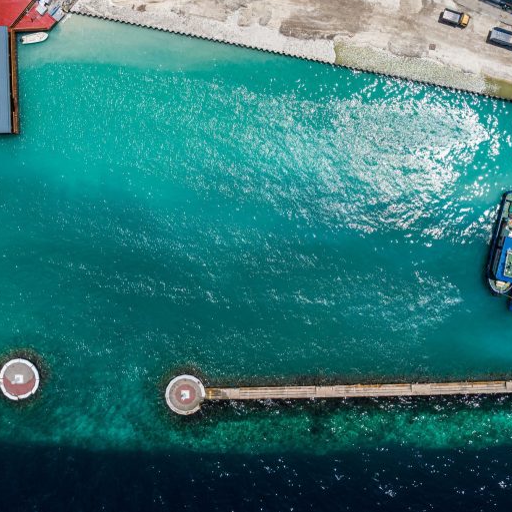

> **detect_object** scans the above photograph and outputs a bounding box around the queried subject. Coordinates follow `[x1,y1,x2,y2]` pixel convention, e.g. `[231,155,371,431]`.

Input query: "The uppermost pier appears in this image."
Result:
[0,31,23,135]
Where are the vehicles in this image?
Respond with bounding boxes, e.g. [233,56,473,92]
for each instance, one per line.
[488,24,512,45]
[438,6,472,26]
